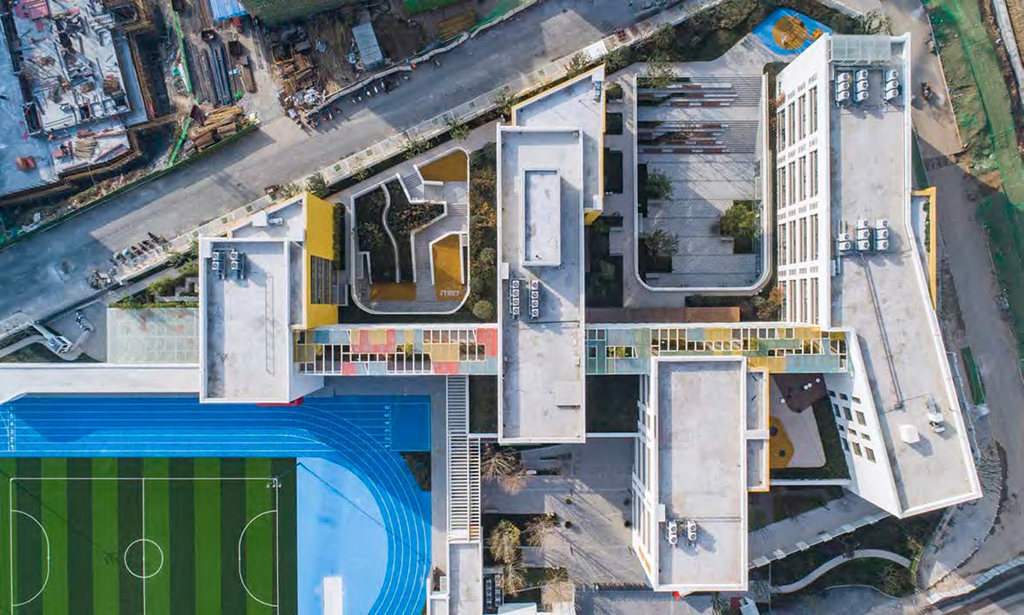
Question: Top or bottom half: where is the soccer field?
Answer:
bottom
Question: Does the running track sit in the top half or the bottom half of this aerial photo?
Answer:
bottom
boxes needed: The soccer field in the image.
[0,458,298,615]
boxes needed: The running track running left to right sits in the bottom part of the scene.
[0,395,430,615]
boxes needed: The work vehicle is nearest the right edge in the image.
[921,81,935,101]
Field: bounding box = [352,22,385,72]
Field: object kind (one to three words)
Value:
shed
